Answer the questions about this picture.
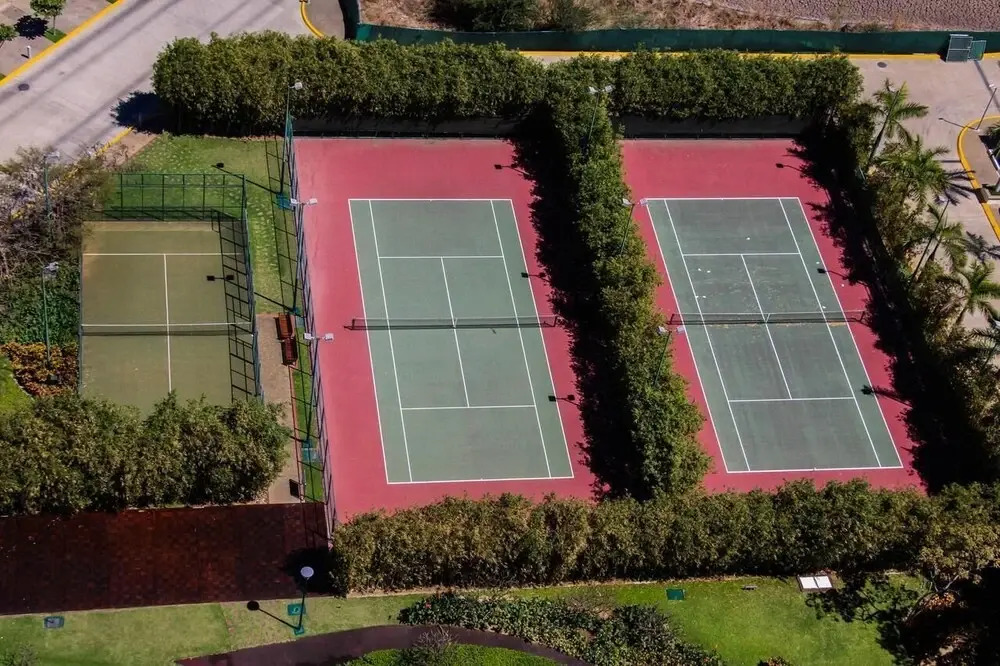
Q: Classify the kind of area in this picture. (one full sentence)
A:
This looks like a sports ground.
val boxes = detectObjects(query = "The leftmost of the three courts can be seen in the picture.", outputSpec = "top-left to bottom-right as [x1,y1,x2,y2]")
[79,221,260,421]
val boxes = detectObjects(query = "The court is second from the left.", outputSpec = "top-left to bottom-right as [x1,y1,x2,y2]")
[293,138,635,549]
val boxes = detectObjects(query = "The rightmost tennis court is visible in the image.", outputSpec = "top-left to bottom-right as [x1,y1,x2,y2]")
[613,138,949,514]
